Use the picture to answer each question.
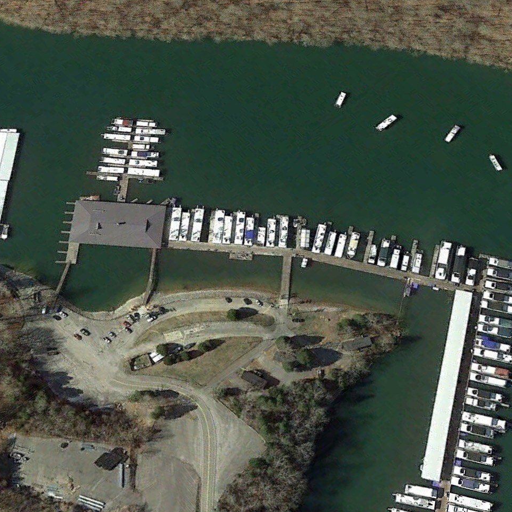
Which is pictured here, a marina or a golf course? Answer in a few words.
marina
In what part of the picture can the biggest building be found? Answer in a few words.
left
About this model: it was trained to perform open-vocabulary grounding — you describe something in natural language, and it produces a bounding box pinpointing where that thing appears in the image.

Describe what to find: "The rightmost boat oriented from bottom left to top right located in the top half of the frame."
[445,124,461,143]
